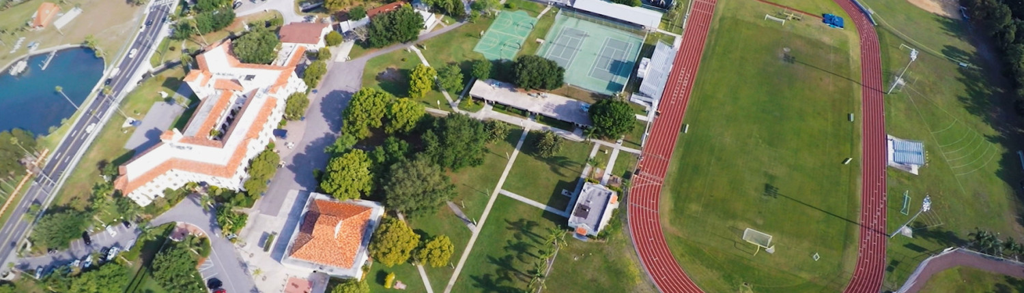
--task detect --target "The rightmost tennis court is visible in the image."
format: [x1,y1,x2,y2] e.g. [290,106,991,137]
[576,23,647,94]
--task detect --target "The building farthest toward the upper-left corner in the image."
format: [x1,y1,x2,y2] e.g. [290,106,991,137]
[21,2,65,31]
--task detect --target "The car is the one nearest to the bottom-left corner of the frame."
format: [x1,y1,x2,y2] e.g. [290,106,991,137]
[31,265,46,282]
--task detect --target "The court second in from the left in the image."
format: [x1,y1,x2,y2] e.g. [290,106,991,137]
[534,9,603,80]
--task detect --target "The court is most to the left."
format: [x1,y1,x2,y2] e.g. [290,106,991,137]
[473,9,537,61]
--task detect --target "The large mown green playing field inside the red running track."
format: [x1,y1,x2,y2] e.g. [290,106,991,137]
[657,0,860,293]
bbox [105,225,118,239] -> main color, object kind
white vehicle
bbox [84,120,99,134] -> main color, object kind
white car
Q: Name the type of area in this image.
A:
sports ground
